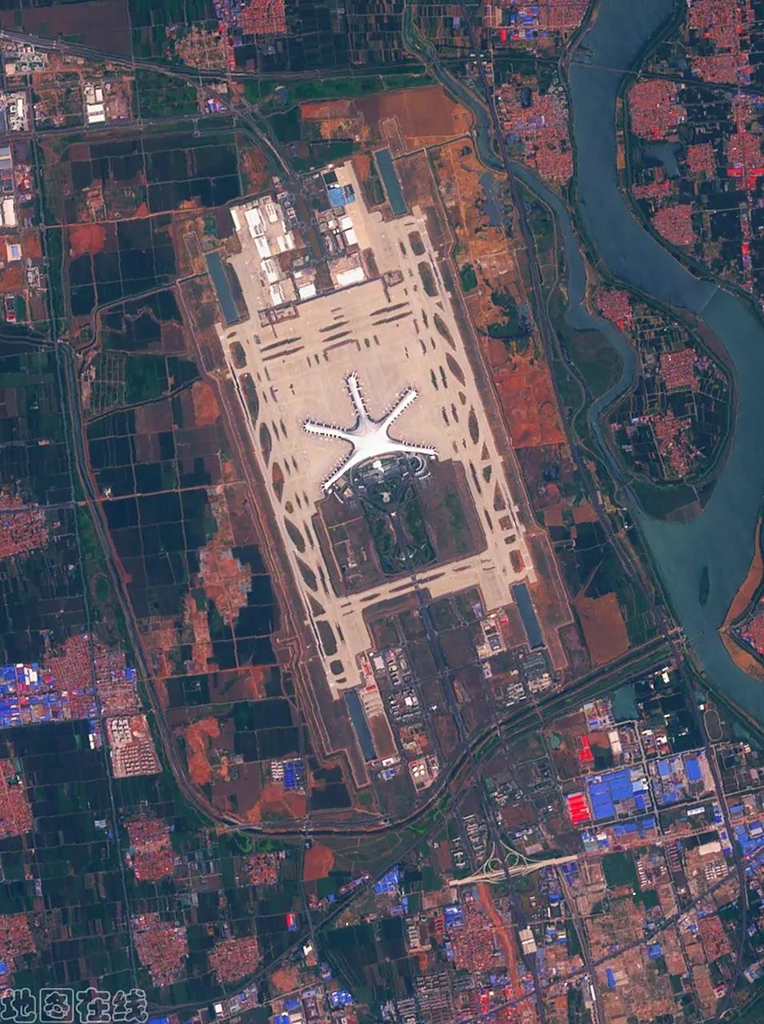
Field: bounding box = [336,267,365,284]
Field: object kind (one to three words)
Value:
shed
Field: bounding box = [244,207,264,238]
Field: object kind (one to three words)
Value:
hangar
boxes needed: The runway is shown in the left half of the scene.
[225,357,334,688]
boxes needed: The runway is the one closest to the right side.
[420,210,532,560]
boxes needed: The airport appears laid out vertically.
[178,116,574,789]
